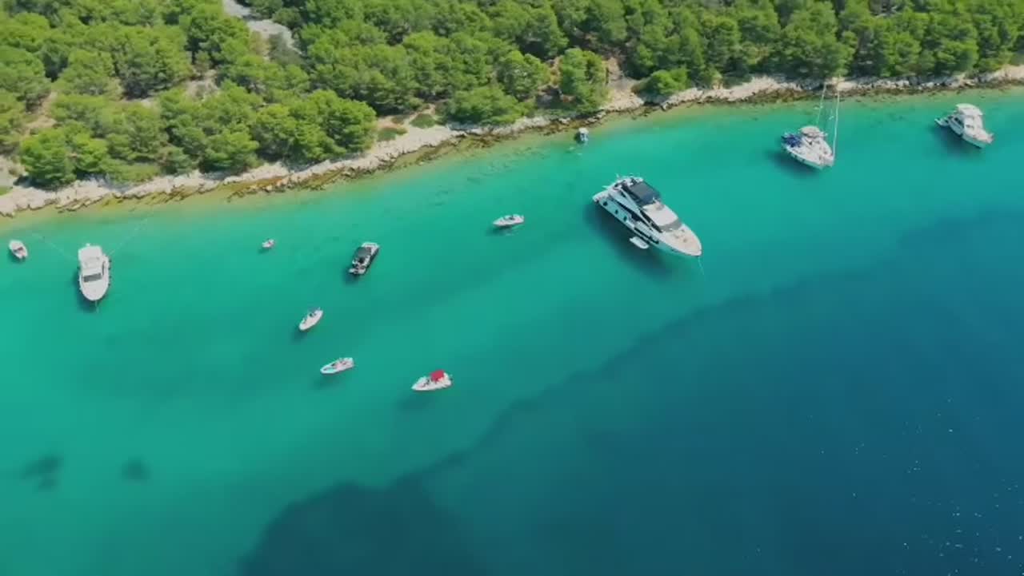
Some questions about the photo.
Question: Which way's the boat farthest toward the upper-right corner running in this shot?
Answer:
on a diagonal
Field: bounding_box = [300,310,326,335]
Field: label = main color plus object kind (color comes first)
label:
white boat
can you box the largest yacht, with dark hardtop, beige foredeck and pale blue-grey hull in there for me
[589,174,701,262]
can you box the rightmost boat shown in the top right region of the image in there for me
[930,107,989,149]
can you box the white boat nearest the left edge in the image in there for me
[10,242,32,264]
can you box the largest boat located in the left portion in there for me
[78,239,113,302]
